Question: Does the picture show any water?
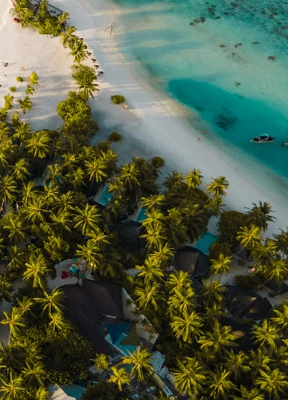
Yes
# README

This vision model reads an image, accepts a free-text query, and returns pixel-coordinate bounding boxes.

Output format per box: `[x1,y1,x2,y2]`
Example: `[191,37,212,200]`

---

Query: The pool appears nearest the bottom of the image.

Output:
[115,334,139,360]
